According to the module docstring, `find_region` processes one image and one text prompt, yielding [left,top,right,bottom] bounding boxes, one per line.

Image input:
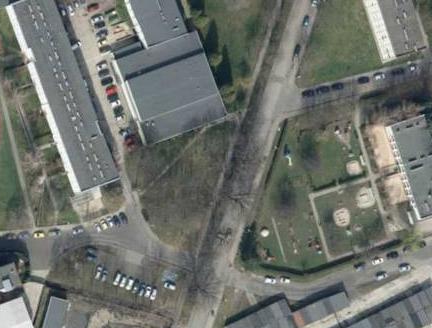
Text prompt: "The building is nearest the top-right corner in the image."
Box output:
[365,0,427,61]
